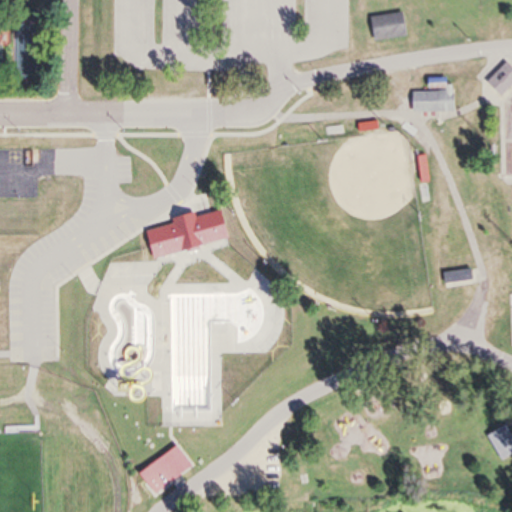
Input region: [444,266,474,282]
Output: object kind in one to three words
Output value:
shed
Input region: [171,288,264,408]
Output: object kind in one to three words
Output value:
swimming pool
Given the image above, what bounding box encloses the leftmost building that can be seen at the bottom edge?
[140,447,191,495]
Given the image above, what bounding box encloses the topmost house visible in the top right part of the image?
[372,10,408,40]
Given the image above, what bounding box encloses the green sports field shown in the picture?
[0,434,42,512]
